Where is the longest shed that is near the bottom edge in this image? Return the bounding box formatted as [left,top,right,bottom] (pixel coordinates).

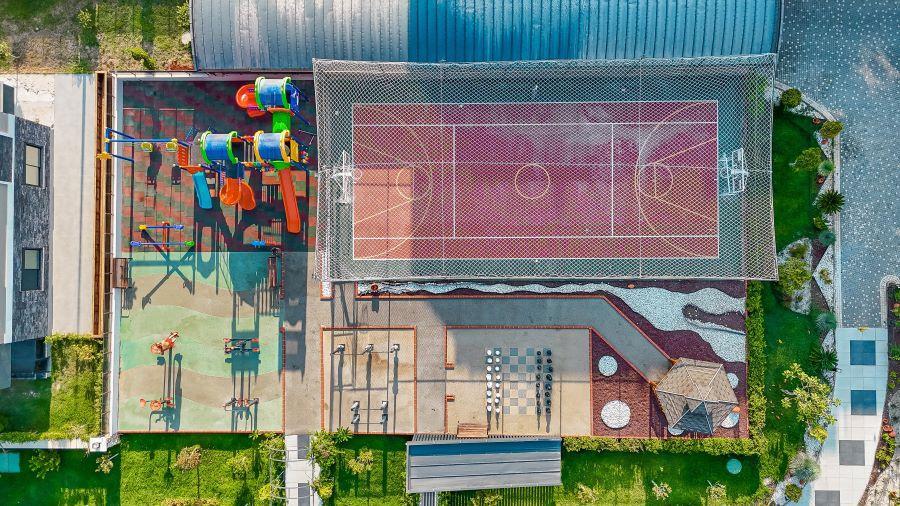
[406,429,562,490]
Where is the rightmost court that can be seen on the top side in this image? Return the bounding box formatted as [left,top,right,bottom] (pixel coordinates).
[329,79,745,280]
